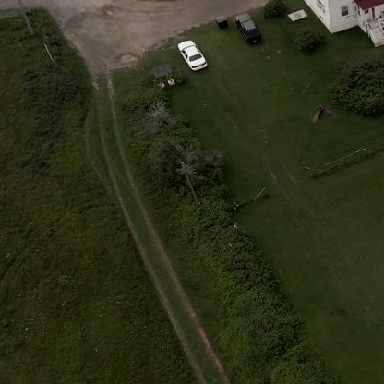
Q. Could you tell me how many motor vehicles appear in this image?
2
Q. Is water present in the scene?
No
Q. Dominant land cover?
grass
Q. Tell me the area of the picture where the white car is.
top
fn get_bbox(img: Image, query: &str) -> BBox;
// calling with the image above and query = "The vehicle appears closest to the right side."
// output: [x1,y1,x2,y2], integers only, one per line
[233,16,261,40]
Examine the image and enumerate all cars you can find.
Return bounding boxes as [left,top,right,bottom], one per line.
[178,40,208,68]
[233,16,261,40]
